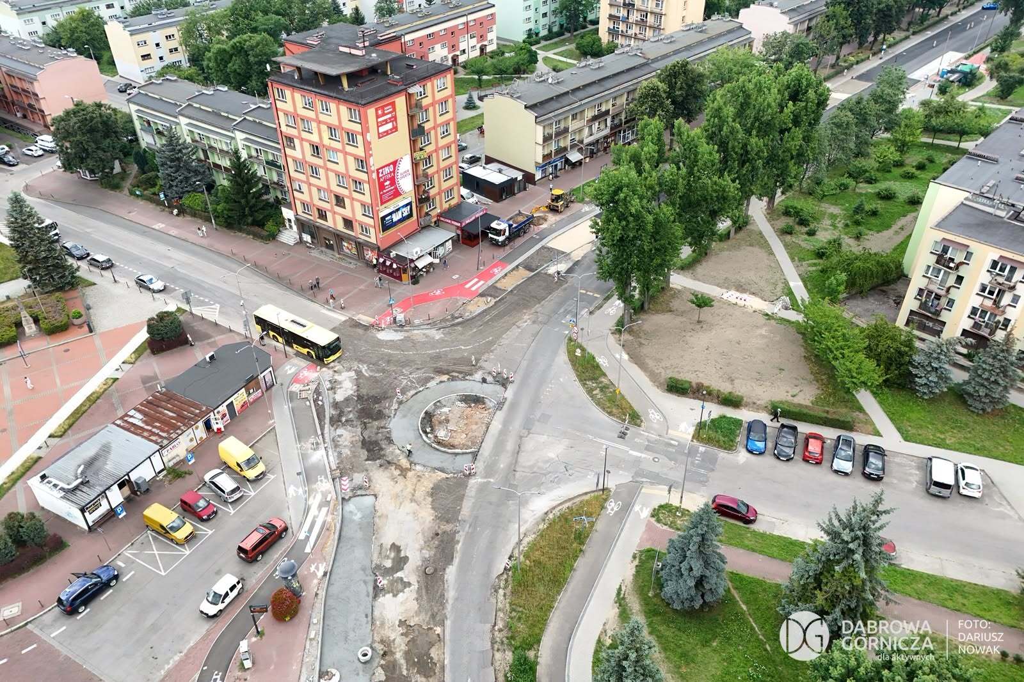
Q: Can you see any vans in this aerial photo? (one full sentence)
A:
Yes, the picture does show a van.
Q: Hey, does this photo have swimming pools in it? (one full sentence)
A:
No, there's no swimming pool here.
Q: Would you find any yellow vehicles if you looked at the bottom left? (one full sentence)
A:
Yes, a yellow vehicle shows up at the bottom left.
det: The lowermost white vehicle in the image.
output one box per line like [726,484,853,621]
[200,570,244,617]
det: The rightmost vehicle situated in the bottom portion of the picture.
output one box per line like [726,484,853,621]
[960,462,987,499]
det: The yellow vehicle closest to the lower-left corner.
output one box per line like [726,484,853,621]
[140,503,192,543]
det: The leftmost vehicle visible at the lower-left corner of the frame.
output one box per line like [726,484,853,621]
[55,562,120,615]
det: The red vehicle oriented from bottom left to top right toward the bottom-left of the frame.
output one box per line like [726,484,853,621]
[235,515,289,564]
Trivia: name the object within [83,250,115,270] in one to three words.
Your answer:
car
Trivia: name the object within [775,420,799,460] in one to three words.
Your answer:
car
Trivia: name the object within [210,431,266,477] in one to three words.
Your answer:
van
